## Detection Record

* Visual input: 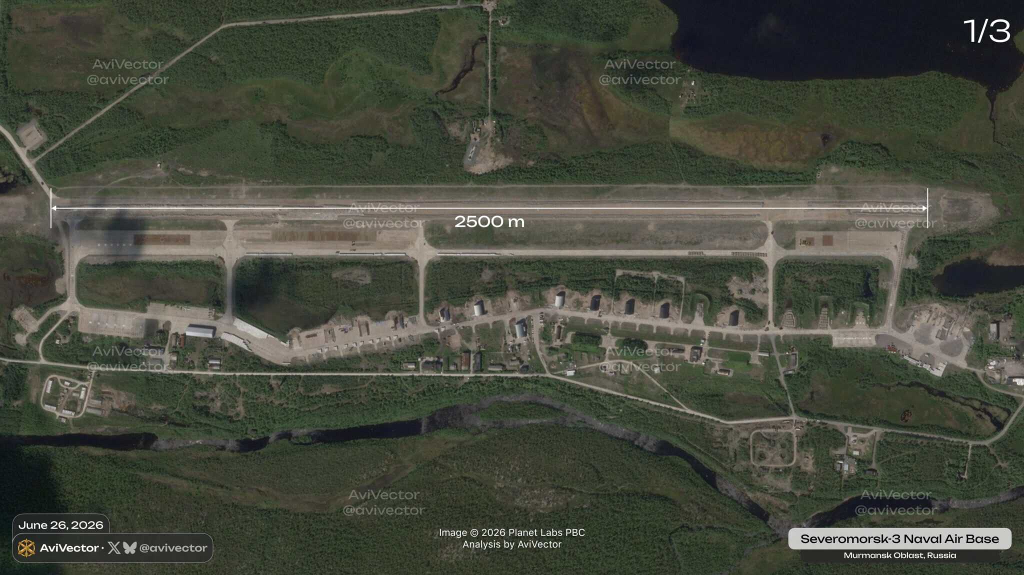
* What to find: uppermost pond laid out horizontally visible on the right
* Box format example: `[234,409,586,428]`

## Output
[934,258,1024,296]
